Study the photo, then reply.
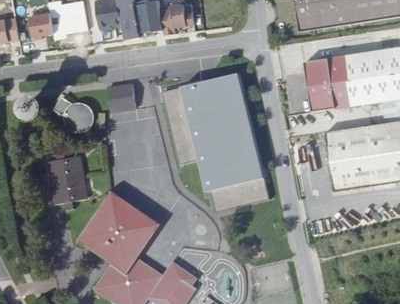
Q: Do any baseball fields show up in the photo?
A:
No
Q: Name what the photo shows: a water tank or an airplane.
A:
water tank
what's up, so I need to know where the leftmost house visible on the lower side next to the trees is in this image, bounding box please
[49,156,90,210]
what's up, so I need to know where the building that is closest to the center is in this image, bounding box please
[164,74,270,211]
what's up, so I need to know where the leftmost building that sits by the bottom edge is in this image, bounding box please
[78,192,197,304]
